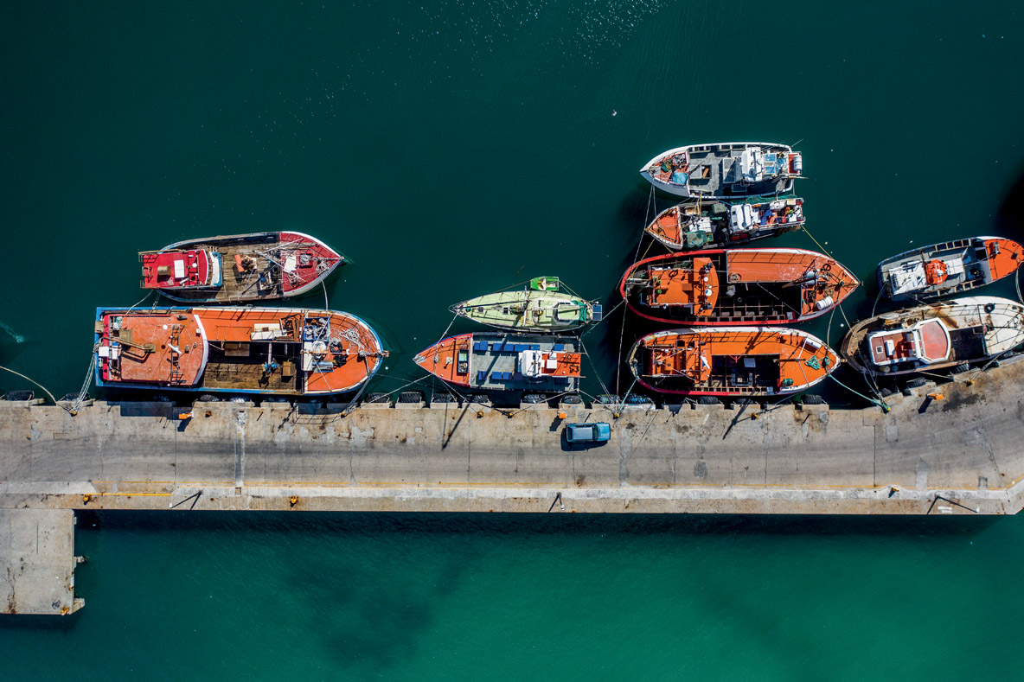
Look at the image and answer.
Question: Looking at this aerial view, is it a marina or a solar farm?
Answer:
marina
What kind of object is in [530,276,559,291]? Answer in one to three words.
boat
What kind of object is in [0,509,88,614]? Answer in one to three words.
pier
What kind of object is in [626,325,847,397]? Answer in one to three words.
boat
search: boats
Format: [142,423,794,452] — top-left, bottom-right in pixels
[95,306,394,396]
[530,276,559,291]
[413,331,586,394]
[617,246,865,327]
[138,230,350,303]
[829,295,1024,376]
[448,279,602,333]
[636,139,809,200]
[870,235,1024,301]
[643,192,810,250]
[626,325,847,397]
